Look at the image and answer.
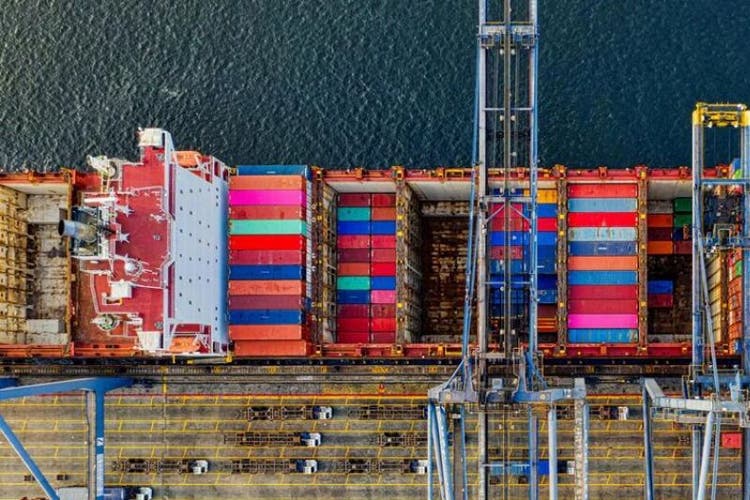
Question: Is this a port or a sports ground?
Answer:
port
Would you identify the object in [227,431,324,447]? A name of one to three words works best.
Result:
vehicle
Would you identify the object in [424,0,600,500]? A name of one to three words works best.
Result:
container crane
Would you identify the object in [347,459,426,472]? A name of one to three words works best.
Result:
vehicle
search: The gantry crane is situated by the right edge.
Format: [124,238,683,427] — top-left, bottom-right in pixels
[600,102,750,500]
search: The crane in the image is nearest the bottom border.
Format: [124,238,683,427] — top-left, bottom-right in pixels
[0,377,149,500]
